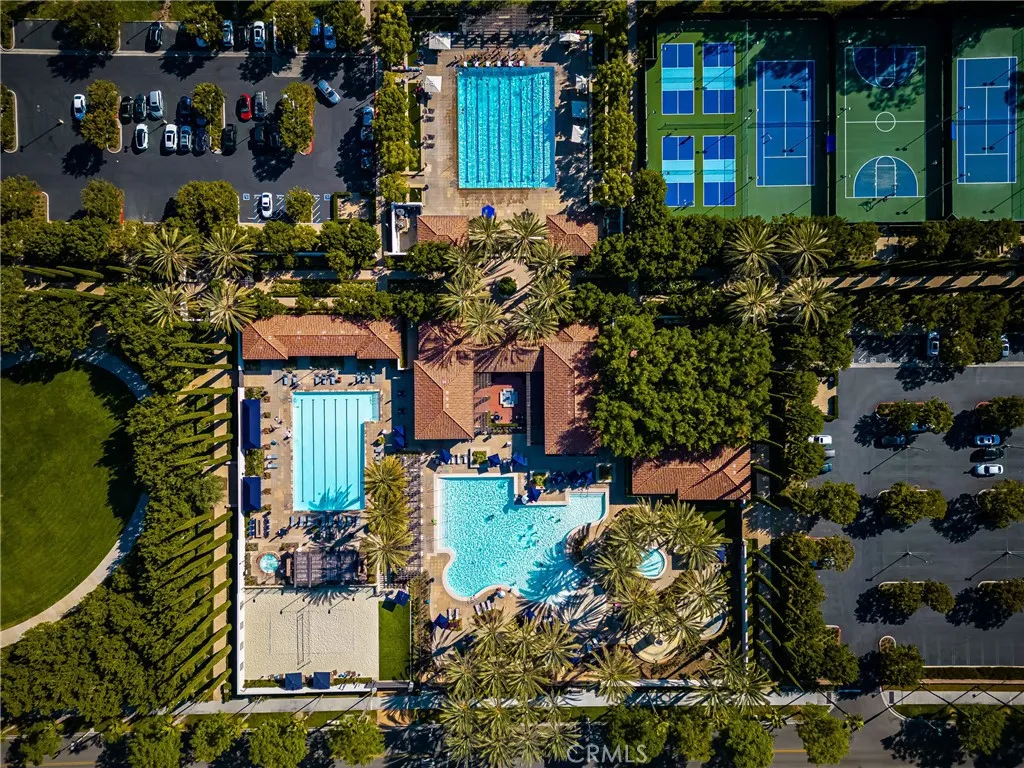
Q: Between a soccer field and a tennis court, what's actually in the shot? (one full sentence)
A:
Looking from above, you can make out a tennis court.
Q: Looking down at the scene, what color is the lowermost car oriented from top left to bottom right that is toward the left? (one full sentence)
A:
In this view, the lowermost car oriented from top left to bottom right that is toward the left is blue.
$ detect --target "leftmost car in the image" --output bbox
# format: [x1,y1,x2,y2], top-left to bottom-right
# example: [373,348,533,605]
[70,92,85,120]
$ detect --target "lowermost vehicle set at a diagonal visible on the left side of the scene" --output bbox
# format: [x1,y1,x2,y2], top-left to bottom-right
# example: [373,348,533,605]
[316,77,340,104]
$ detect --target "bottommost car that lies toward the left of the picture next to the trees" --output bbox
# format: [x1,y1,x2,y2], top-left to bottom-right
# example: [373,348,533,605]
[258,191,272,218]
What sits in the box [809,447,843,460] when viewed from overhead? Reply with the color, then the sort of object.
gray vehicle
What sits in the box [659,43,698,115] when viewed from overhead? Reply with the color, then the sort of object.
blue sports court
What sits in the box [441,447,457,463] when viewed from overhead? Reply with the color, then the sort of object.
blue umbrella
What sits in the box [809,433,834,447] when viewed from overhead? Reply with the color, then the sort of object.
white car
